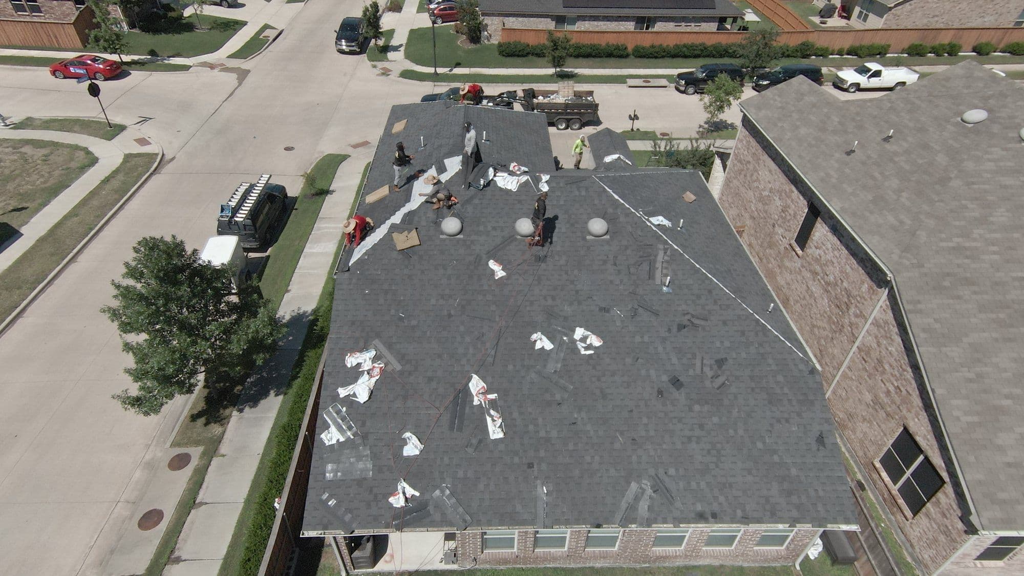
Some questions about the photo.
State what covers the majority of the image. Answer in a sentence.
The largest share of the image is taken up by buildings.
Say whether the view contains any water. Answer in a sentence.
No, no water is visible.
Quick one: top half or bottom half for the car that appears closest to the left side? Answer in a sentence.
It is in the top half that the car that appears closest to the left side appears.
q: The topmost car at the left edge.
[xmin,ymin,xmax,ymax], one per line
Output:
[46,53,125,83]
